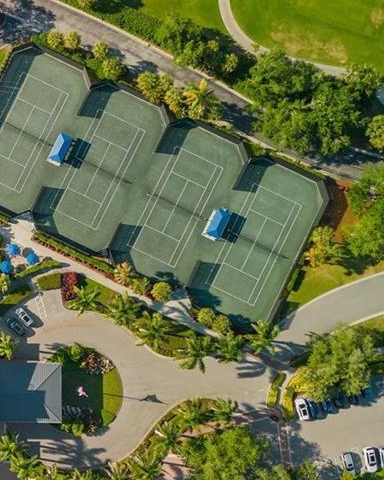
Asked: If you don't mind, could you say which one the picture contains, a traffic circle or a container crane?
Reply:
traffic circle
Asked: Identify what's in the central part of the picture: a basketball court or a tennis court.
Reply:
tennis court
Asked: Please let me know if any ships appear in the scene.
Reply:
No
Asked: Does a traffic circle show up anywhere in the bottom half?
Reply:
Yes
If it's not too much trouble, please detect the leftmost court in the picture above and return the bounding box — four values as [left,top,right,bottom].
[0,47,90,215]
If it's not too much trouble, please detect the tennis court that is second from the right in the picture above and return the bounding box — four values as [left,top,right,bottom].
[111,120,247,288]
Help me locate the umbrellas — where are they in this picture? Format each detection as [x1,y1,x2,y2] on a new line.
[0,259,13,272]
[7,243,20,257]
[26,252,39,265]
